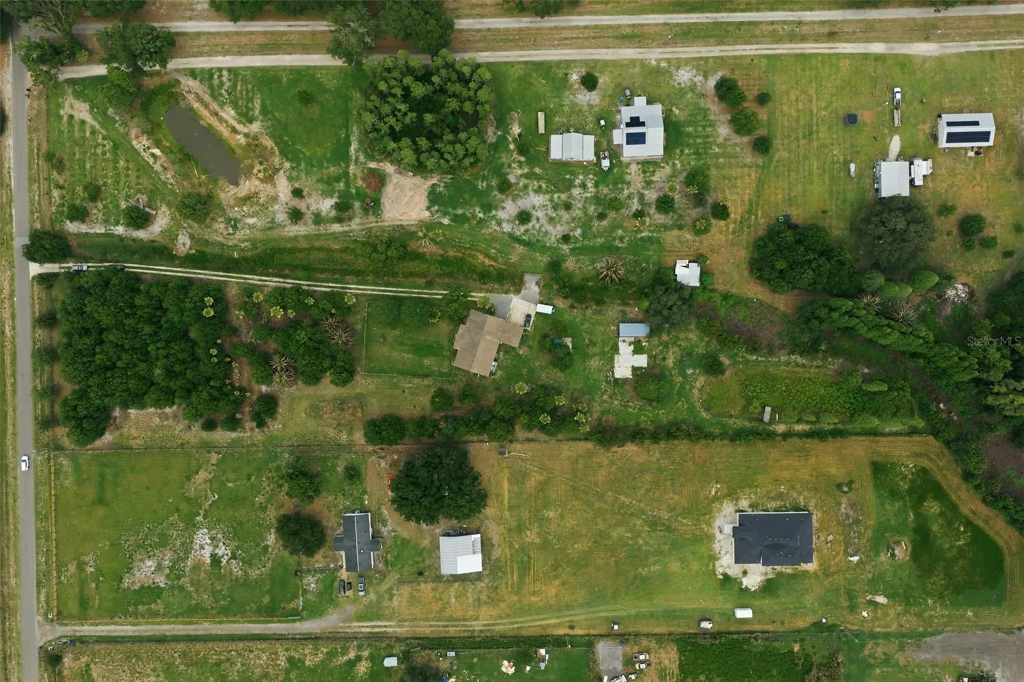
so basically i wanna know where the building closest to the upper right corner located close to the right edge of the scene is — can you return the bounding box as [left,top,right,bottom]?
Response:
[935,112,996,149]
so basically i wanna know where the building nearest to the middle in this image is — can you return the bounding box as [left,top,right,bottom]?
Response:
[454,309,524,377]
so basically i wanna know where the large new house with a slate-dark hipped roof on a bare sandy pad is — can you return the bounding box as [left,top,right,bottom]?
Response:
[731,512,813,566]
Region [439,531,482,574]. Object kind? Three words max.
barn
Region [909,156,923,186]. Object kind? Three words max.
camper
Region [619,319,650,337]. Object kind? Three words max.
shed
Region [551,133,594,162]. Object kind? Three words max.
shed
